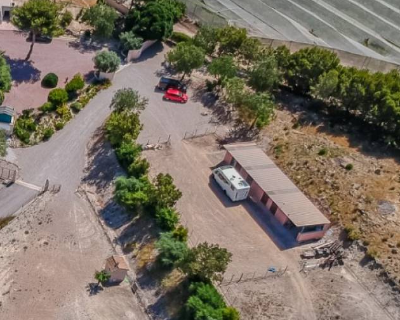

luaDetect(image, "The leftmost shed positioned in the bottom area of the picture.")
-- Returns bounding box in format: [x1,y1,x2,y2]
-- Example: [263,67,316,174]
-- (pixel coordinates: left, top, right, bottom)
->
[106,256,130,286]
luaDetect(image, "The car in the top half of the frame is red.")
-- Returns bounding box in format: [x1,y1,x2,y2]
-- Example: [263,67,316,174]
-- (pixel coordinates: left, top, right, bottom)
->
[163,89,188,102]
